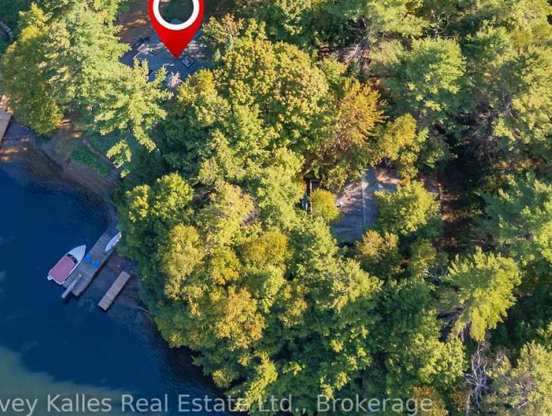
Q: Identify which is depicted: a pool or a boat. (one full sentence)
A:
I can see a boat in this picture.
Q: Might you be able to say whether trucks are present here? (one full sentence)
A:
No, there's no truck here.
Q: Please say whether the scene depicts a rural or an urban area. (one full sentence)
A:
The area shown here is rural.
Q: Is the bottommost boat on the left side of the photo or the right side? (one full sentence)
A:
The bottommost boat sits on the left side.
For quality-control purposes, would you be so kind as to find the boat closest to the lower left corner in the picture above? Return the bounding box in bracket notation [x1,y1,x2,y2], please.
[46,243,89,284]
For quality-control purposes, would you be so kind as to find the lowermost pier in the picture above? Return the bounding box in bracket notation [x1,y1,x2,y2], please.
[98,272,130,311]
